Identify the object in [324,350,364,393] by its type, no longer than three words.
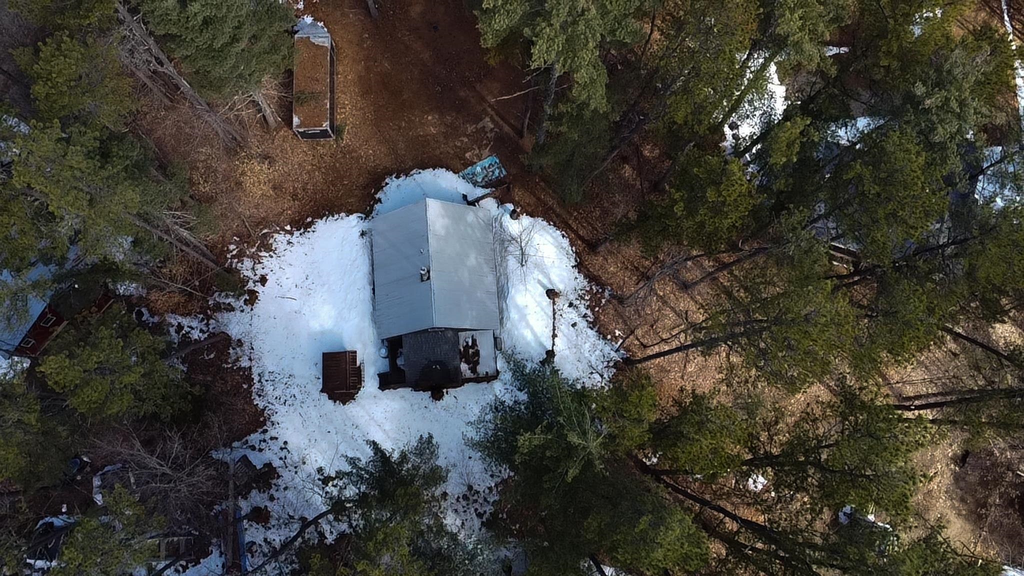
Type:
shed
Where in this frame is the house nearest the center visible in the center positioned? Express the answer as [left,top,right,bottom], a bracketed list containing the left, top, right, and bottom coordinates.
[372,199,502,394]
